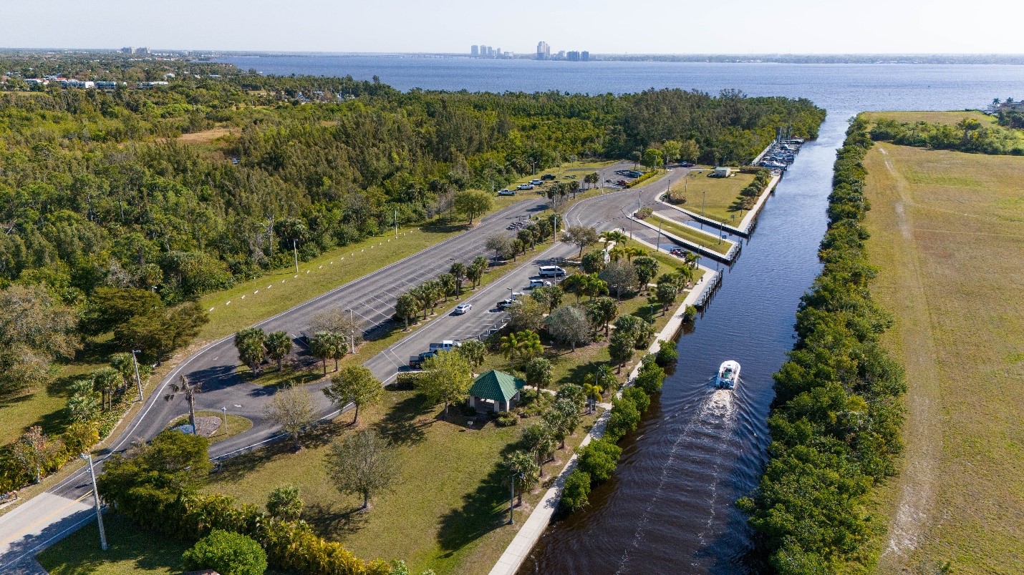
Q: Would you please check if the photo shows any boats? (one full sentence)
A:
Yes, the image includes a boat.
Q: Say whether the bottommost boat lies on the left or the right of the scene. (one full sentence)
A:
The bottommost boat is on the right side of the image.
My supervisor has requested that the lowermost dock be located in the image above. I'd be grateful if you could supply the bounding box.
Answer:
[694,272,727,310]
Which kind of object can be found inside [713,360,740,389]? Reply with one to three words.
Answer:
boat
